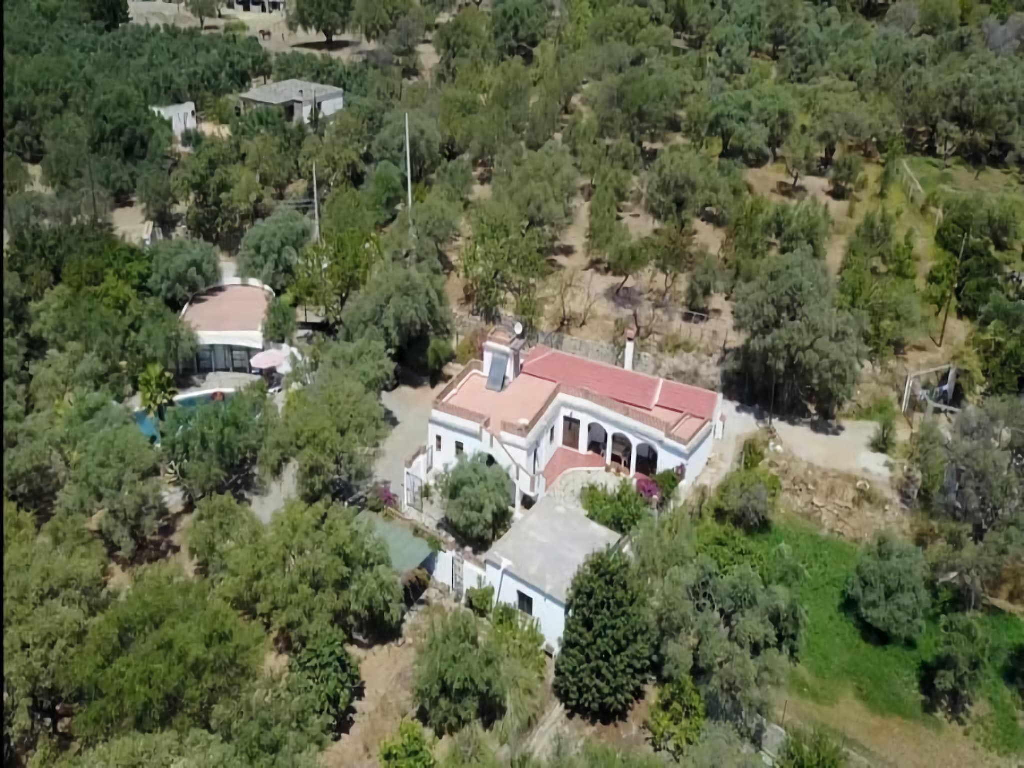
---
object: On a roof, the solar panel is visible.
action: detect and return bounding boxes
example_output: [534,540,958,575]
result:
[487,355,508,392]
